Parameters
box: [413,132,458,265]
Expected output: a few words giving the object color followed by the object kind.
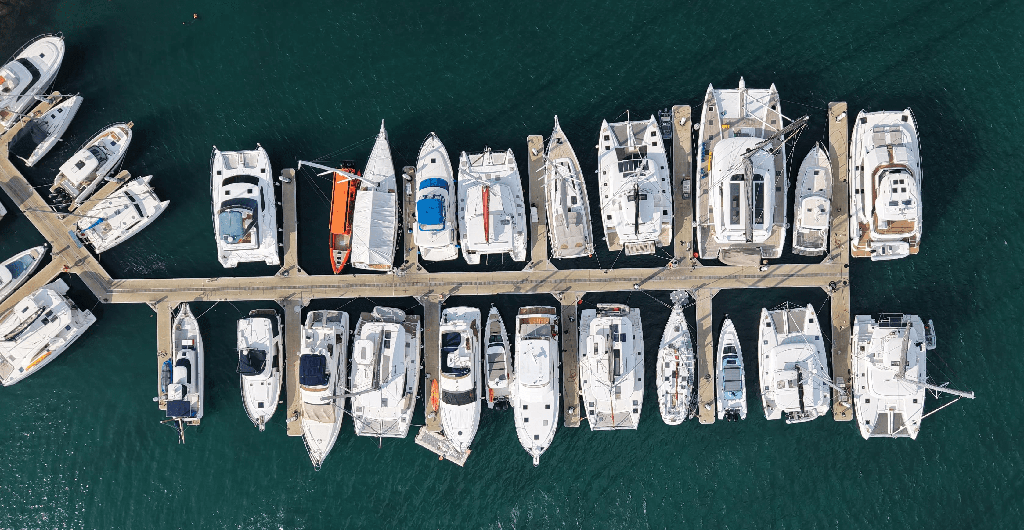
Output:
white boat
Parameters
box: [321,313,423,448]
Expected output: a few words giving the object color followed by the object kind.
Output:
white boat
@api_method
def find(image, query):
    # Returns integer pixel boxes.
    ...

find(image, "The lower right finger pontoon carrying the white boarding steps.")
[820,287,852,421]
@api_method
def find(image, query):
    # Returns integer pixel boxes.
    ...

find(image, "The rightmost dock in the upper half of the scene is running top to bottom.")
[820,102,850,286]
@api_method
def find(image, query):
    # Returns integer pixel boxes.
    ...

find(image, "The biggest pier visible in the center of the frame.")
[102,263,848,303]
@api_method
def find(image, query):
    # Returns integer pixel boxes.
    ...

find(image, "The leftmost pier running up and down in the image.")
[146,301,182,410]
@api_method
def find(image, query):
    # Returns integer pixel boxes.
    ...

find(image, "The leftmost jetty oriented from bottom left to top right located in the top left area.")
[0,91,64,158]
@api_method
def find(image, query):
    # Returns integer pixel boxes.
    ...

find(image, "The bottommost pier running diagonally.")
[0,247,76,317]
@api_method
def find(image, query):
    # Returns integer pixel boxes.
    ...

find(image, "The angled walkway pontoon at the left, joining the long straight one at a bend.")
[0,148,115,303]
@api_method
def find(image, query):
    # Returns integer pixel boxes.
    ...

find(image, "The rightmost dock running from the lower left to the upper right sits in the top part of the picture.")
[63,170,132,230]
